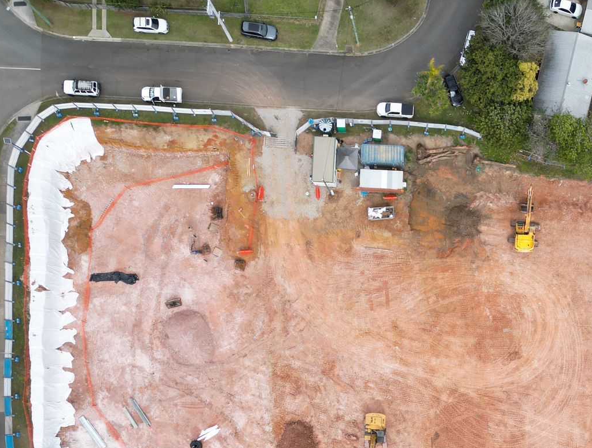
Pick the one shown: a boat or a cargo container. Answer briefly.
cargo container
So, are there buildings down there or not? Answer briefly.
Yes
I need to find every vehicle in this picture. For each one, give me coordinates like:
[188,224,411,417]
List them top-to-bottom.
[550,0,583,16]
[130,13,167,34]
[239,17,275,39]
[459,26,480,65]
[441,71,464,106]
[60,76,98,94]
[141,82,179,106]
[376,99,414,117]
[511,180,539,251]
[364,414,386,448]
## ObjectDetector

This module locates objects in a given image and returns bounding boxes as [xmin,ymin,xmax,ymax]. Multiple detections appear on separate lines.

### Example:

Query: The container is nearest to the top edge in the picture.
[361,144,406,170]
